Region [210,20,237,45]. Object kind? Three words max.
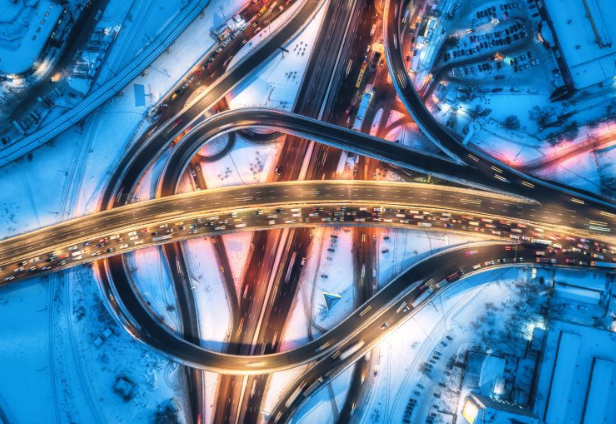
building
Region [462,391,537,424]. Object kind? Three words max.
building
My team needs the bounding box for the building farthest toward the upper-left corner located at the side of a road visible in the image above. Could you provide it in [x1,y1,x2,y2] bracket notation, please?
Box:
[0,0,76,77]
